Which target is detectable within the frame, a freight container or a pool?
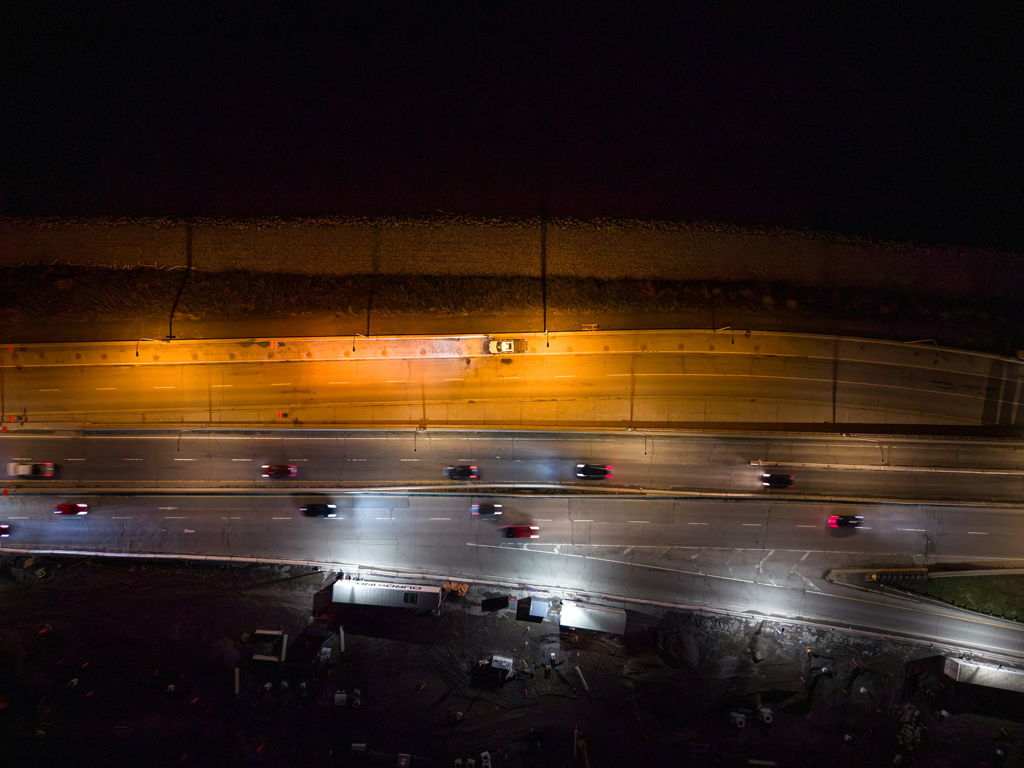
freight container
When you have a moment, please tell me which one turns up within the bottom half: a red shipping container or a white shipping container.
white shipping container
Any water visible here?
Yes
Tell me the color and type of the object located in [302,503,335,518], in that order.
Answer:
black car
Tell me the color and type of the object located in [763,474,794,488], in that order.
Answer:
black car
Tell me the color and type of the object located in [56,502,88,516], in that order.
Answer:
red car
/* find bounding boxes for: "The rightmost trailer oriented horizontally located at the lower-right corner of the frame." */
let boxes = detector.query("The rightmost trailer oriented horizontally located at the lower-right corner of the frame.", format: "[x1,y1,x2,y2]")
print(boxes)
[944,656,1024,692]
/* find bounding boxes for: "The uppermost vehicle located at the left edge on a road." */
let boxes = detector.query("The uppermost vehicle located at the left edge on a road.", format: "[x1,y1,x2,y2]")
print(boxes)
[11,463,52,478]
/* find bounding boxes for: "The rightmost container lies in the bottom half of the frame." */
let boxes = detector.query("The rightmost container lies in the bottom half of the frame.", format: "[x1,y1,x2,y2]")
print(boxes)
[558,599,627,634]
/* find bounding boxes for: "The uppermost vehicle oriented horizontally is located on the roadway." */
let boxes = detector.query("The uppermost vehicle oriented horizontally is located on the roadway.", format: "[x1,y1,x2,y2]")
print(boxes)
[489,339,528,355]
